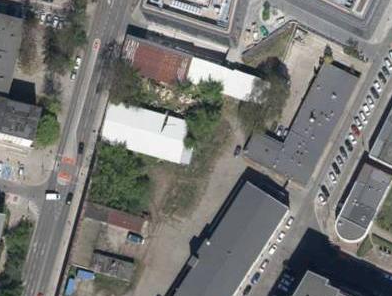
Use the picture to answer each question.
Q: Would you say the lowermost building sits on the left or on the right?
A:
right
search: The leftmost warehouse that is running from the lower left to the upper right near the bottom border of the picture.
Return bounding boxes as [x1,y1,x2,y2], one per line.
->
[166,183,289,296]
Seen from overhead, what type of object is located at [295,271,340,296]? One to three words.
building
